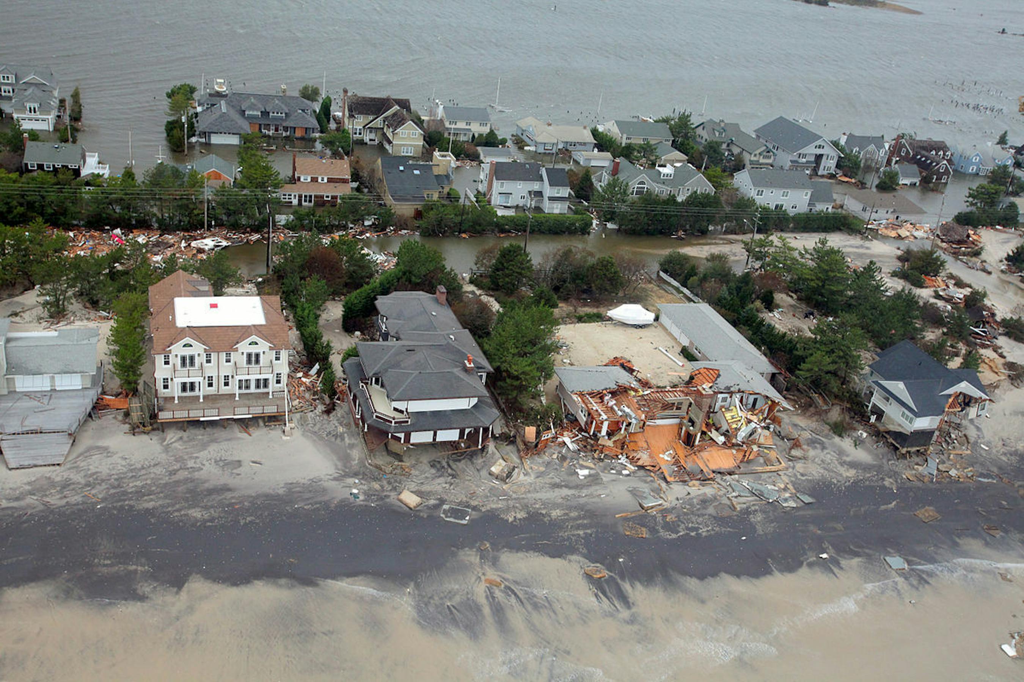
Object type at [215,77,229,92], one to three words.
boat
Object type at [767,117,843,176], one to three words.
house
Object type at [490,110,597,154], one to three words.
house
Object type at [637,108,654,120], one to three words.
boat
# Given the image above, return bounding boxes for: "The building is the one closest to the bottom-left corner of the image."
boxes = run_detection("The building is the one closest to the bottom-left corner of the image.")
[0,317,102,471]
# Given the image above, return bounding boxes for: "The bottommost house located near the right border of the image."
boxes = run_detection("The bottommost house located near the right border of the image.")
[870,340,989,451]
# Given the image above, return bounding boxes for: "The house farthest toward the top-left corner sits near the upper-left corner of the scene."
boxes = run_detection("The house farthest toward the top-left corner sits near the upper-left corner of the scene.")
[0,64,57,131]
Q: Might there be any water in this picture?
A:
Yes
